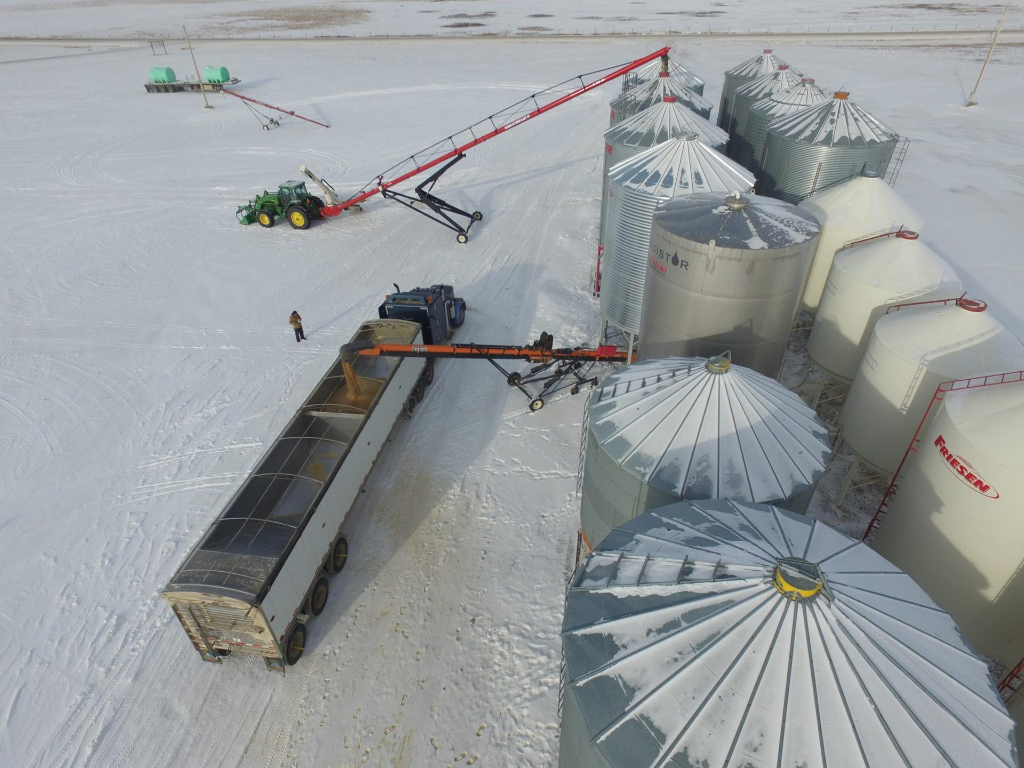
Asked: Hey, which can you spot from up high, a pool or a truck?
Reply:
truck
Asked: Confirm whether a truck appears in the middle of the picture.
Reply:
Yes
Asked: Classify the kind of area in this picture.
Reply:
industrial area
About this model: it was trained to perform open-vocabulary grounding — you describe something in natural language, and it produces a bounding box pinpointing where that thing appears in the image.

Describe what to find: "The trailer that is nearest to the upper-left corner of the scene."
[143,76,241,93]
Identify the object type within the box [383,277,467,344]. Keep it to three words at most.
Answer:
truck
